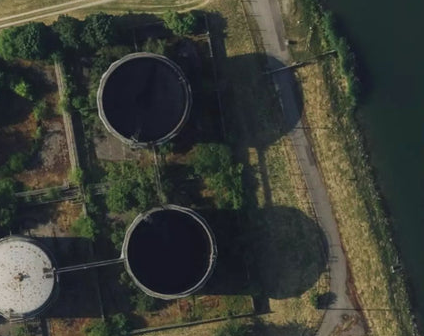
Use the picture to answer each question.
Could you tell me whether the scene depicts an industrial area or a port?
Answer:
industrial area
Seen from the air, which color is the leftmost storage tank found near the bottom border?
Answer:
white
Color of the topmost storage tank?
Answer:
black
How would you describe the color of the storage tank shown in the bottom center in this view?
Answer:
black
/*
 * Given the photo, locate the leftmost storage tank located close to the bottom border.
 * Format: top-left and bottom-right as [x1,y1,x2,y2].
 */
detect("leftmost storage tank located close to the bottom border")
[0,236,60,322]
